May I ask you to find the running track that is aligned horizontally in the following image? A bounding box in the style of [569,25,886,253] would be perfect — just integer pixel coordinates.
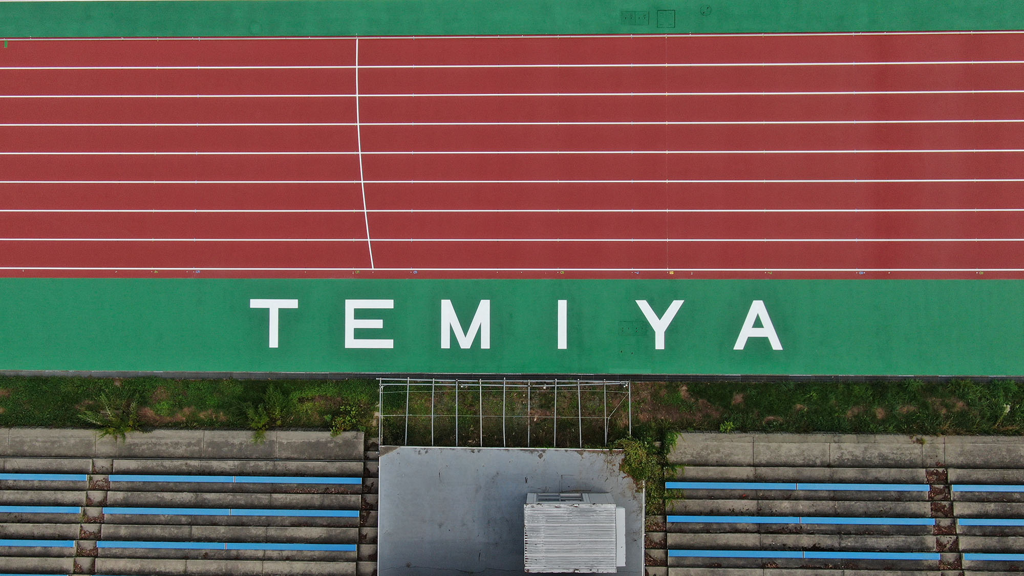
[0,30,1024,280]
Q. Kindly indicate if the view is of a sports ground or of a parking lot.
sports ground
